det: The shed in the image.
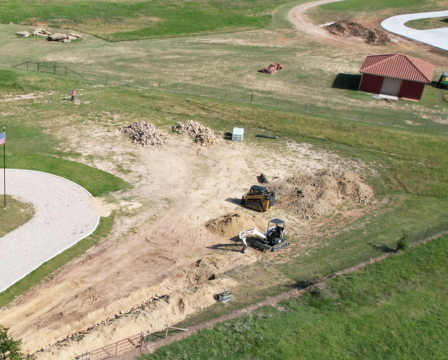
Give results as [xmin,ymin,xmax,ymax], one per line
[358,52,434,100]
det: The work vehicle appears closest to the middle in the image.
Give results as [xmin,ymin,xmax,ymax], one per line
[230,184,280,212]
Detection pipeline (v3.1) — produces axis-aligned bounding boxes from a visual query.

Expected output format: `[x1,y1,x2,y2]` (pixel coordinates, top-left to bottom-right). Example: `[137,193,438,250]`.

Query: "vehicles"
[438,71,448,88]
[230,184,280,212]
[239,217,293,255]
